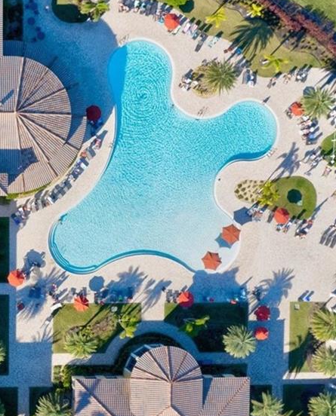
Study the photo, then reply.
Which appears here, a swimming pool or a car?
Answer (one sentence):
The one in the frame is a swimming pool.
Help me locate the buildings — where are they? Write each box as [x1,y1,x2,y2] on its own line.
[0,0,88,194]
[72,338,250,416]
